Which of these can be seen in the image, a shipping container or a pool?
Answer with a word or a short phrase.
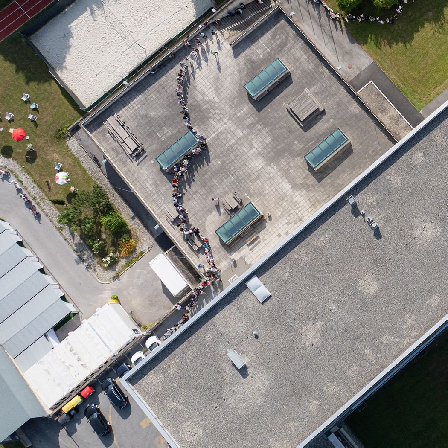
shipping container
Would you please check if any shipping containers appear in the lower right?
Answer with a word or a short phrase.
No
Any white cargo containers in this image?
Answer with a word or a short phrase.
Yes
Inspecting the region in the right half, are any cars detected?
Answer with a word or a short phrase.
No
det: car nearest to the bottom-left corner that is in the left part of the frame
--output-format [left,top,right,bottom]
[86,404,112,436]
